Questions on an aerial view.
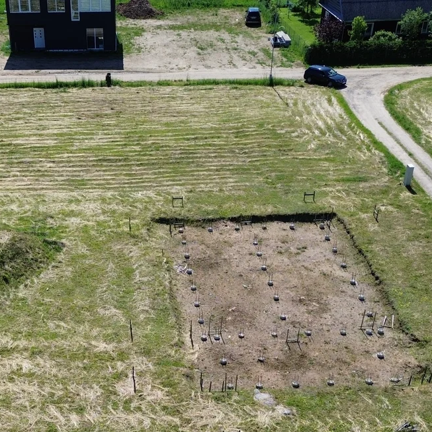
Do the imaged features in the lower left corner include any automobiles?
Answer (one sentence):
No, I see no automobile in the lower left corner.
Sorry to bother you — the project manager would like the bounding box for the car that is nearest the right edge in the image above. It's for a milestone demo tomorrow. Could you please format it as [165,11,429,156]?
[301,61,349,86]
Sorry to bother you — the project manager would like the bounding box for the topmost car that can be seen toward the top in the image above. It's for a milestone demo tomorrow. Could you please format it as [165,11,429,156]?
[242,1,263,20]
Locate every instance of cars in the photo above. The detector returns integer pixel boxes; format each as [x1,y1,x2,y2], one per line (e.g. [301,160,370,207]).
[301,61,349,86]
[242,1,263,20]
